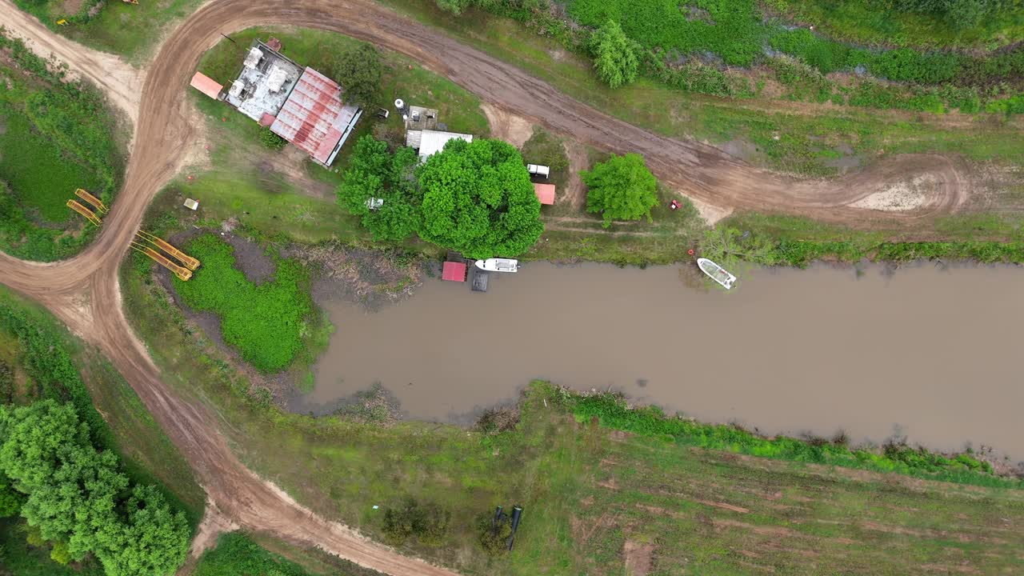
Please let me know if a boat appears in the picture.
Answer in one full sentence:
Yes, a boat appears in the view.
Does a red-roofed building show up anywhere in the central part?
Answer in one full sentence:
Yes, a red-roofed building shows up in the central part.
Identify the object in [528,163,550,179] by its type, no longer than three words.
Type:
vehicle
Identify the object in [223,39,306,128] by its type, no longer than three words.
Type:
house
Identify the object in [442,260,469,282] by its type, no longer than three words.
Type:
building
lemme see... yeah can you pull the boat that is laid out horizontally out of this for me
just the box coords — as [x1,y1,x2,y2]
[476,258,521,272]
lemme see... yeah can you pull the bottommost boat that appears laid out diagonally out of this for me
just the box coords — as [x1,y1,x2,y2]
[699,253,737,291]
